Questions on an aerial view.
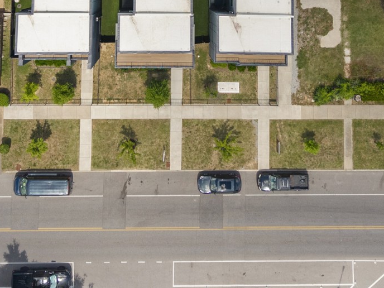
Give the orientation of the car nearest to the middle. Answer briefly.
from left to right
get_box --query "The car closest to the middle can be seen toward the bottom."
[196,171,242,194]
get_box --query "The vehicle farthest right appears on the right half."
[257,169,310,193]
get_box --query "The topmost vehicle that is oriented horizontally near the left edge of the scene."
[15,172,74,196]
